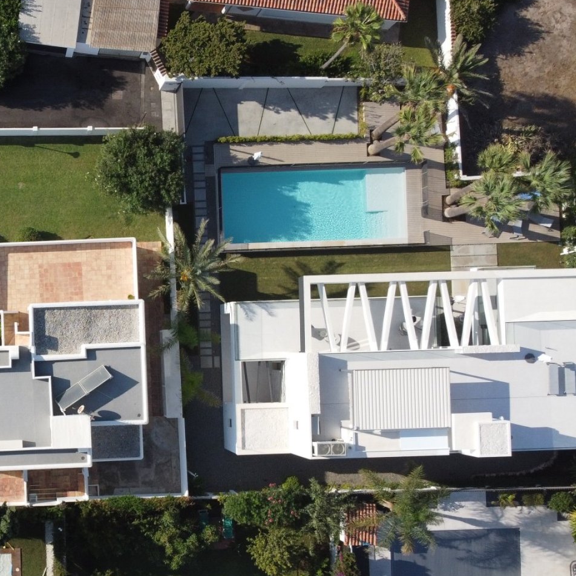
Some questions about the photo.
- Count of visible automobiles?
zero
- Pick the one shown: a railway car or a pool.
pool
